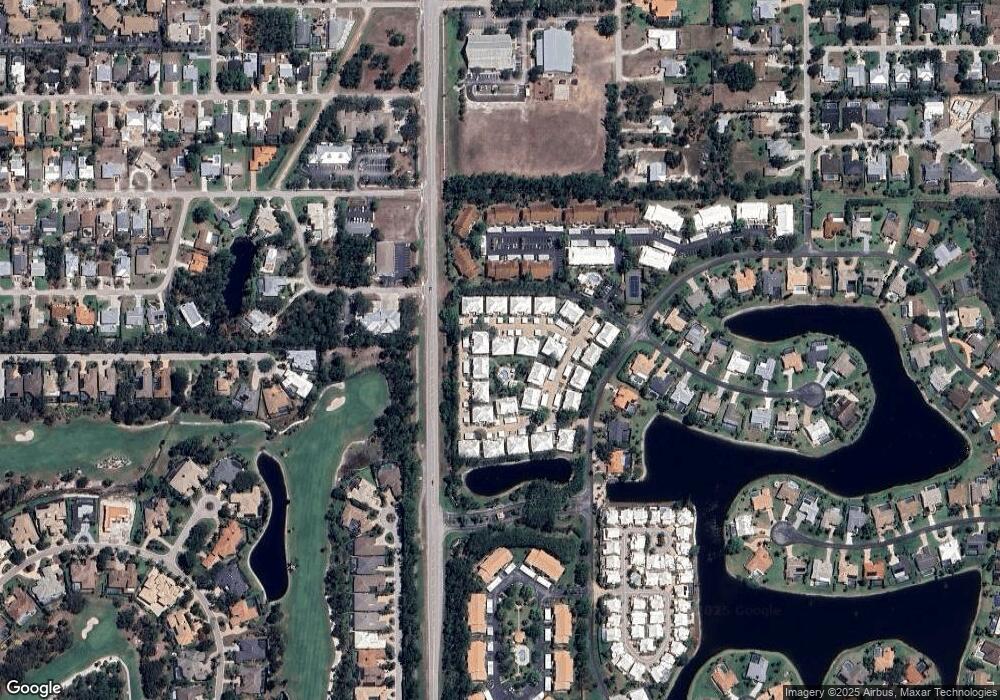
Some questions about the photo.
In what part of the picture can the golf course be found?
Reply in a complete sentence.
The golf course is located in the bottom left region of the scene.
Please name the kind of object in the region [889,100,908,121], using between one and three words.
house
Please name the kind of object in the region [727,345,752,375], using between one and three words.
house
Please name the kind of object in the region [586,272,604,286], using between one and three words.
swimming pool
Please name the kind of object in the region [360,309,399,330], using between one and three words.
building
